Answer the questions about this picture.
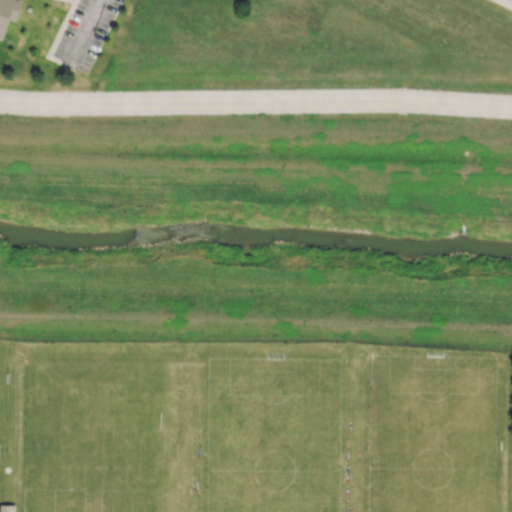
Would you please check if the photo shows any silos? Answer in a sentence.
No, the picture doesn't show any silo.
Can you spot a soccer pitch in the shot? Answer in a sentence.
Yes, a soccer pitch is visible in the scene.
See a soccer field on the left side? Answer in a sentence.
Yes, the scene does show a soccer field on the left side.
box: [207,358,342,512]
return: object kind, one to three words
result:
soccer field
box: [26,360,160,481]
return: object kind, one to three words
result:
soccer field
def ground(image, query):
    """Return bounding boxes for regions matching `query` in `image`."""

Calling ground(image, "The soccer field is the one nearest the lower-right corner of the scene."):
[370,356,498,512]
